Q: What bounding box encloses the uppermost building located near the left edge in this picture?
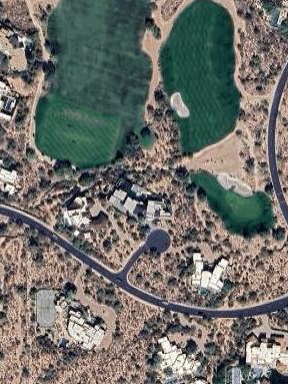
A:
[0,26,28,70]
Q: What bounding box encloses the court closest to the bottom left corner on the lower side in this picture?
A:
[36,289,56,326]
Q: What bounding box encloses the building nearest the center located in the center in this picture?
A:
[104,183,172,222]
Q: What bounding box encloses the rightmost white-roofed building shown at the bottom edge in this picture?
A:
[241,335,288,375]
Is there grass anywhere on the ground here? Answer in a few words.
Yes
